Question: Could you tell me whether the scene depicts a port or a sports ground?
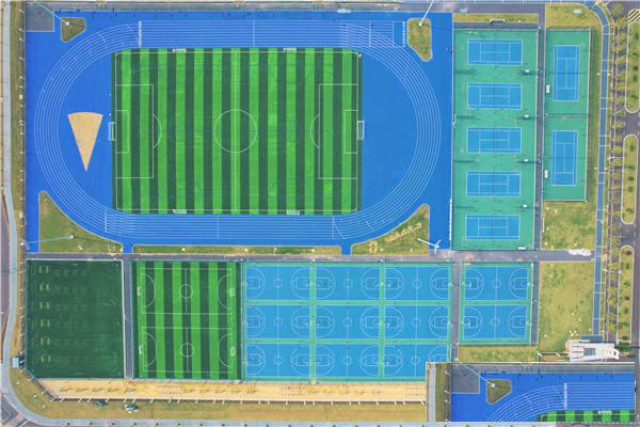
sports ground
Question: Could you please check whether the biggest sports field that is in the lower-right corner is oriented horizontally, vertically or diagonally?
horizontally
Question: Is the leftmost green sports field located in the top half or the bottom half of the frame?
bottom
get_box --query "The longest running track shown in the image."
[32,18,443,239]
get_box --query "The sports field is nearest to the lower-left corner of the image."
[27,260,122,379]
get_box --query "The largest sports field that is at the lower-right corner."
[451,372,636,422]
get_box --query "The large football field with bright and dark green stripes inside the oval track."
[111,47,362,215]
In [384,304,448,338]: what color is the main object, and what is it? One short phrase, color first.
blue basketball court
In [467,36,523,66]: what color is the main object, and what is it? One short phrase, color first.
blue tennis court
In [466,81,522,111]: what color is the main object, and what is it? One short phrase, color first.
blue tennis court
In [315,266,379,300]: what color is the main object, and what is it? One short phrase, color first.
blue basketball court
